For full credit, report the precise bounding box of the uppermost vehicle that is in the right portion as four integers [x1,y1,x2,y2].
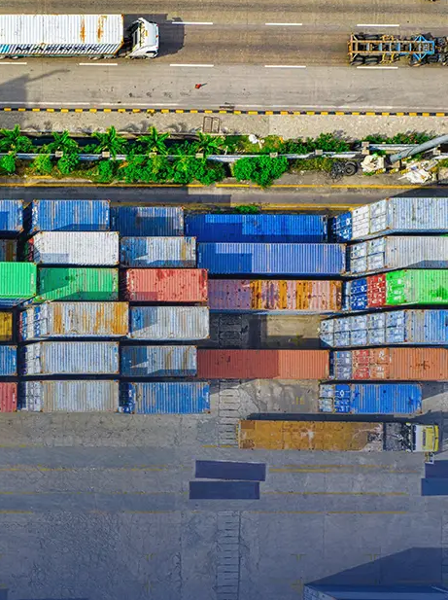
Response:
[341,37,448,71]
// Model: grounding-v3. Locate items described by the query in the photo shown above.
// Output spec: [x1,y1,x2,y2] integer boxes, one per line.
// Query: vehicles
[341,37,448,71]
[234,417,438,462]
[79,24,162,65]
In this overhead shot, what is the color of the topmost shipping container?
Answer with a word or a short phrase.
white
